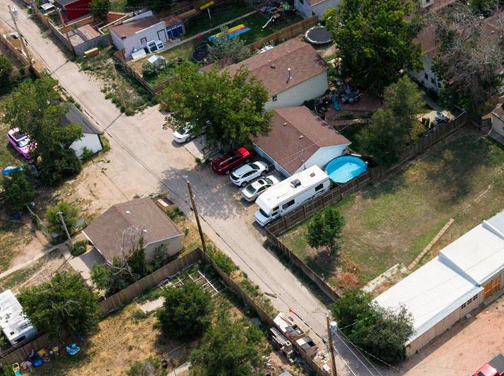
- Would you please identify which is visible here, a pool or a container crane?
pool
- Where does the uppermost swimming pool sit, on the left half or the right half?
right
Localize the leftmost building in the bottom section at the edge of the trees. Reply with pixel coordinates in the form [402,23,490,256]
[82,197,184,278]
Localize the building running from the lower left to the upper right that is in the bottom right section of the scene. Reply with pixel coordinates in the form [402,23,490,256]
[380,208,504,357]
